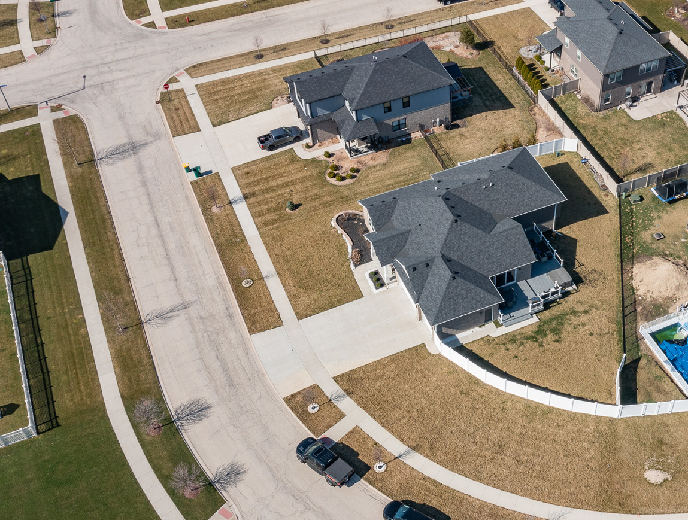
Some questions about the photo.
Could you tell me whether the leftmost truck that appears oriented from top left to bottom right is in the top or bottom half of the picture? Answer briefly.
bottom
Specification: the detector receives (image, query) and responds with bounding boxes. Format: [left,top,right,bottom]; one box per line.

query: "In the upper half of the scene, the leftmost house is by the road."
[290,40,455,161]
